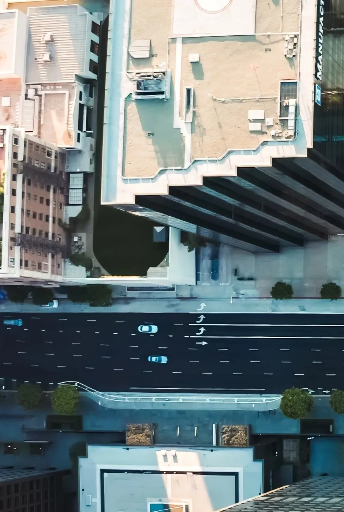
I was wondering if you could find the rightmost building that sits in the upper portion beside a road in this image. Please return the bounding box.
[100,0,344,257]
